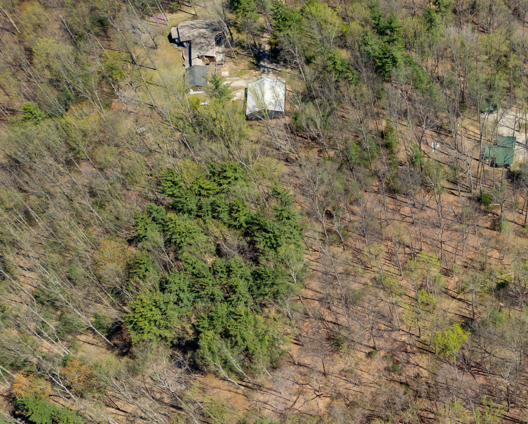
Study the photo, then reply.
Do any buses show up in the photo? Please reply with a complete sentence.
No, I can't see a single bus in this photo.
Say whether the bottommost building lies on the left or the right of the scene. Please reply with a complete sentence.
It is on the right.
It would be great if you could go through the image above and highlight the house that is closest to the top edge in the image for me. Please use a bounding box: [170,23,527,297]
[168,18,228,72]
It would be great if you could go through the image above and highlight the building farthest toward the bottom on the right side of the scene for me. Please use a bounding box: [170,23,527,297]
[483,136,519,172]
